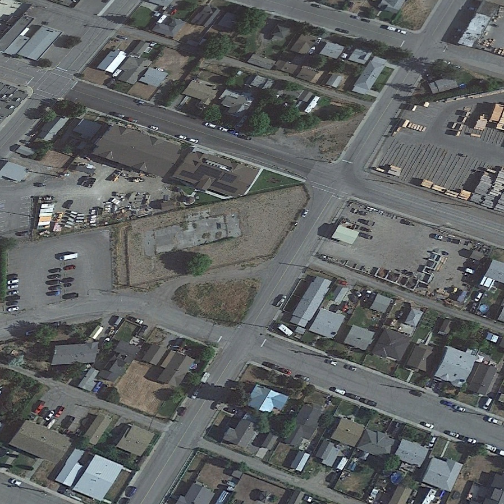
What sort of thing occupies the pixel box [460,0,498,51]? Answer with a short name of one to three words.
building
